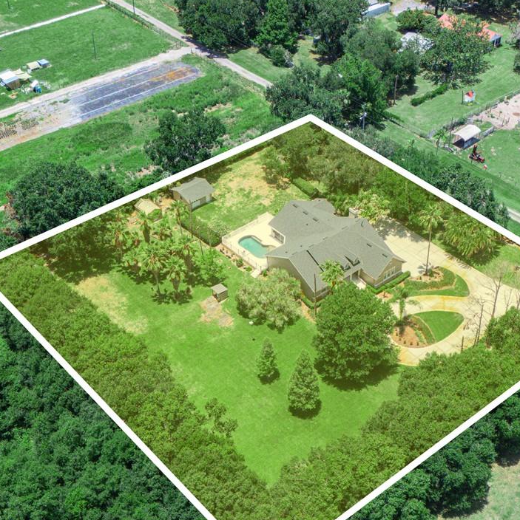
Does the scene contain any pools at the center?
Yes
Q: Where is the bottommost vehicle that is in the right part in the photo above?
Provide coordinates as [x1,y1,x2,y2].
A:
[470,141,485,159]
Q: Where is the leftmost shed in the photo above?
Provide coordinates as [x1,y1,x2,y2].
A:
[0,68,22,88]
